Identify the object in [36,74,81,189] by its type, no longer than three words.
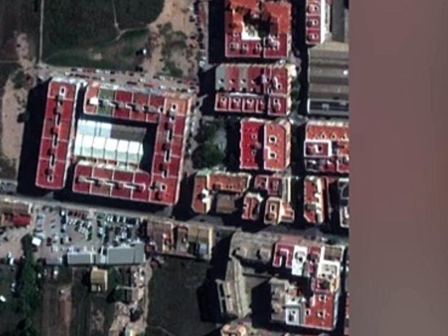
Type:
building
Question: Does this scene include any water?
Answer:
No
